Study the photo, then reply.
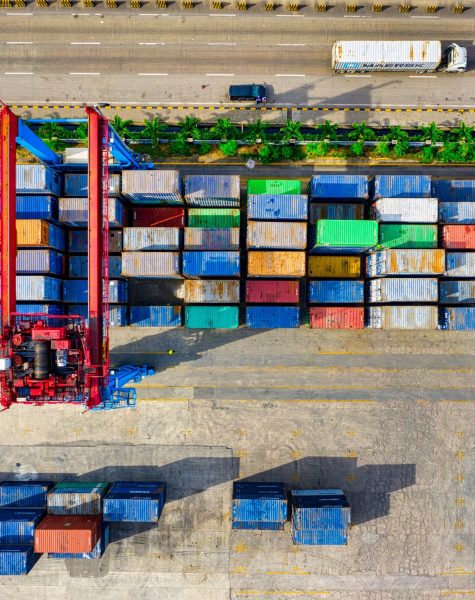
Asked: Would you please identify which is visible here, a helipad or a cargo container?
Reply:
cargo container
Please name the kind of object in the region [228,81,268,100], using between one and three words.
car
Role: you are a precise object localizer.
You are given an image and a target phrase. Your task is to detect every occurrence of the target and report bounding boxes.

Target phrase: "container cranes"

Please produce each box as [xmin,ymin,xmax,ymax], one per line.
[0,94,158,416]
